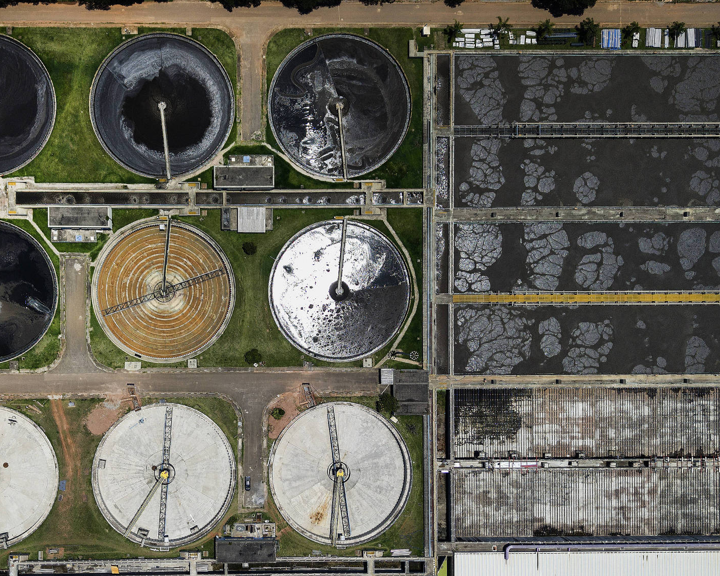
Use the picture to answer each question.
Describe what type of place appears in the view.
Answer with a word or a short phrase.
industrial area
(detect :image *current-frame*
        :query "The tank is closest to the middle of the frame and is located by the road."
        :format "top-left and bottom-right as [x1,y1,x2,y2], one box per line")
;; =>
[268,216,411,363]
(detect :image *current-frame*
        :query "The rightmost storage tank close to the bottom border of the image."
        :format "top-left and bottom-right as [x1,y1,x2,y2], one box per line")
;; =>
[268,402,412,550]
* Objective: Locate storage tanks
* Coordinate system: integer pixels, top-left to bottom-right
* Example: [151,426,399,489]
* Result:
[91,216,236,364]
[0,33,56,176]
[268,216,411,363]
[268,402,412,550]
[0,221,58,363]
[89,32,235,181]
[0,405,58,553]
[92,403,236,555]
[268,32,412,181]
